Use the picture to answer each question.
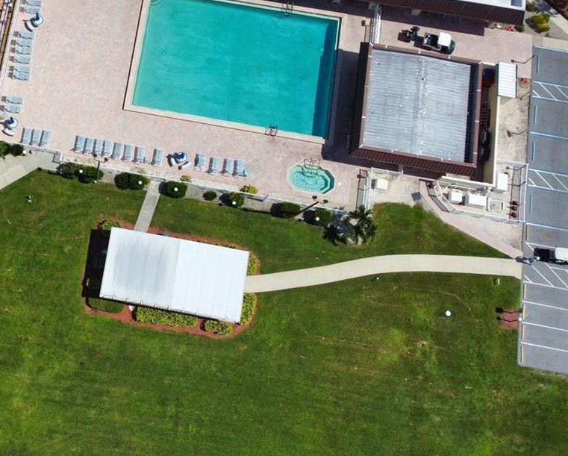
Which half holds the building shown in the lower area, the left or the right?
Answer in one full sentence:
The building shown in the lower area is on the left side of the image.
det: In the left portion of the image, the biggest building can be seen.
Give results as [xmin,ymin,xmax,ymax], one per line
[99,227,248,324]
